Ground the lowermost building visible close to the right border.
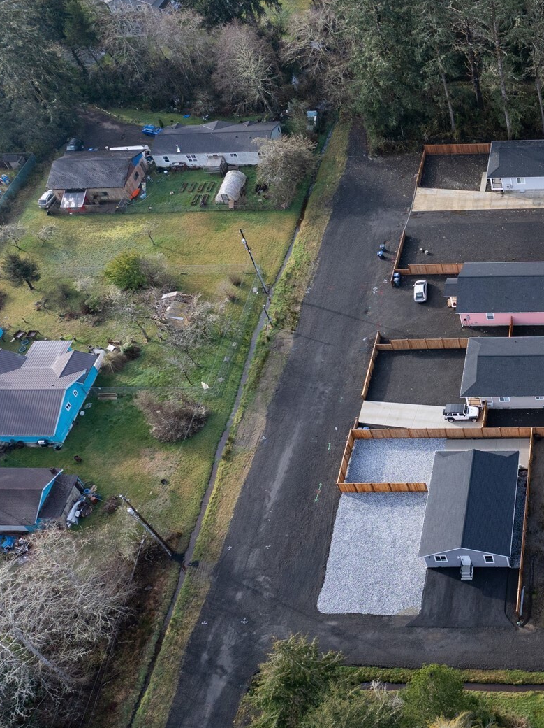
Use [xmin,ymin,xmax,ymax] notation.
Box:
[418,449,520,566]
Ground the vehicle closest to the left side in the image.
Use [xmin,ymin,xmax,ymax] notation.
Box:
[32,191,57,211]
